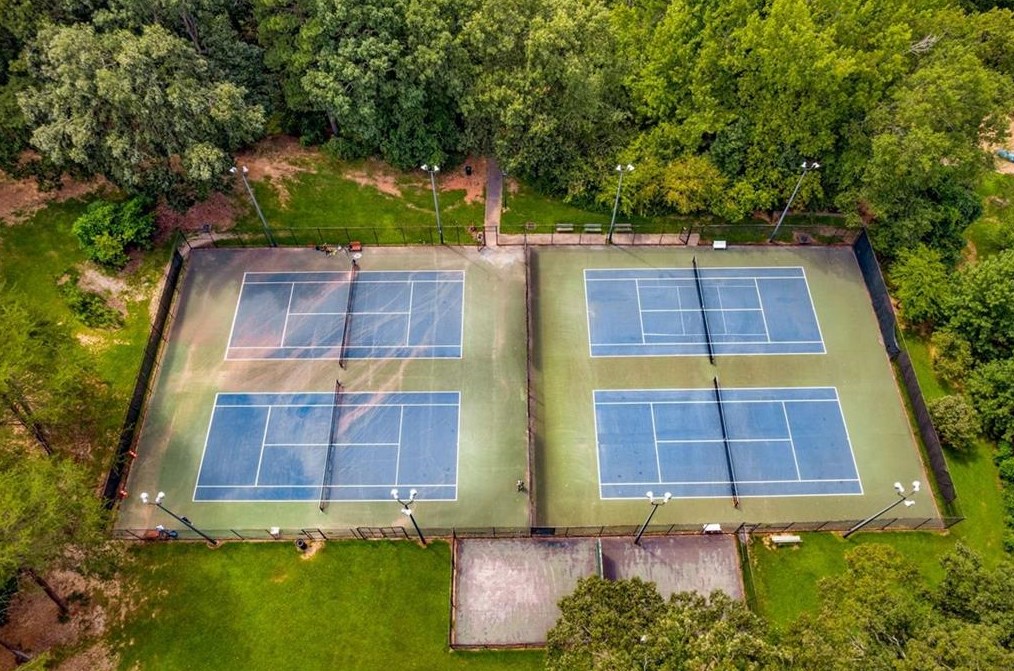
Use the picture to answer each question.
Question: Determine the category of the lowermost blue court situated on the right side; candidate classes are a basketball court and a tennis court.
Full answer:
Looking closely, the lowermost blue court situated on the right side is a tennis court.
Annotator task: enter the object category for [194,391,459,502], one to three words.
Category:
tennis court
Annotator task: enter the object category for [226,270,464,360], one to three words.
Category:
tennis court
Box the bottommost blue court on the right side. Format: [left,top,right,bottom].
[593,388,862,498]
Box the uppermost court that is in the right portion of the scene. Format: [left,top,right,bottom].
[583,266,826,356]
